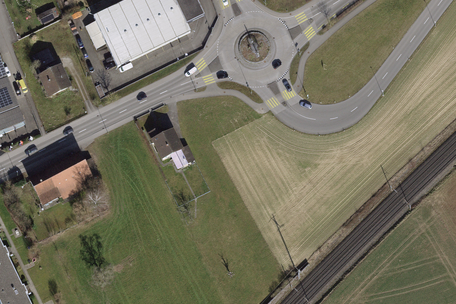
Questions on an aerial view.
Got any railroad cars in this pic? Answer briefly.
No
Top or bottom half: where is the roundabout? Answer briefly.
top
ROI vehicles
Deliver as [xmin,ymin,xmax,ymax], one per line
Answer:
[300,100,313,108]
[82,46,89,58]
[218,72,228,78]
[102,62,114,70]
[64,127,74,135]
[76,35,84,48]
[4,65,12,76]
[284,79,292,92]
[272,58,282,70]
[102,56,112,64]
[10,168,22,177]
[86,58,94,72]
[137,92,148,100]
[20,80,27,92]
[26,145,38,154]
[121,63,134,72]
[185,66,198,76]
